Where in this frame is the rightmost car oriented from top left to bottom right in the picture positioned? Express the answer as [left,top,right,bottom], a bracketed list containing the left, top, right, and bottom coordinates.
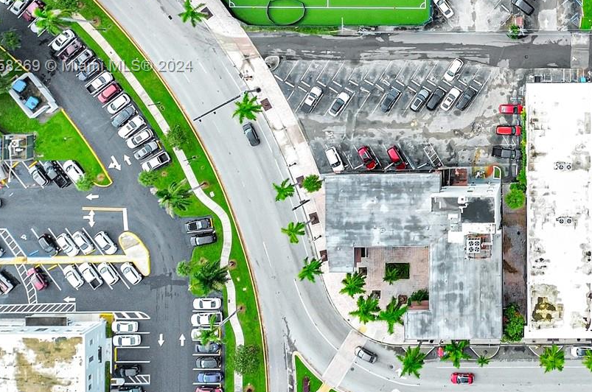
[511,0,534,17]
